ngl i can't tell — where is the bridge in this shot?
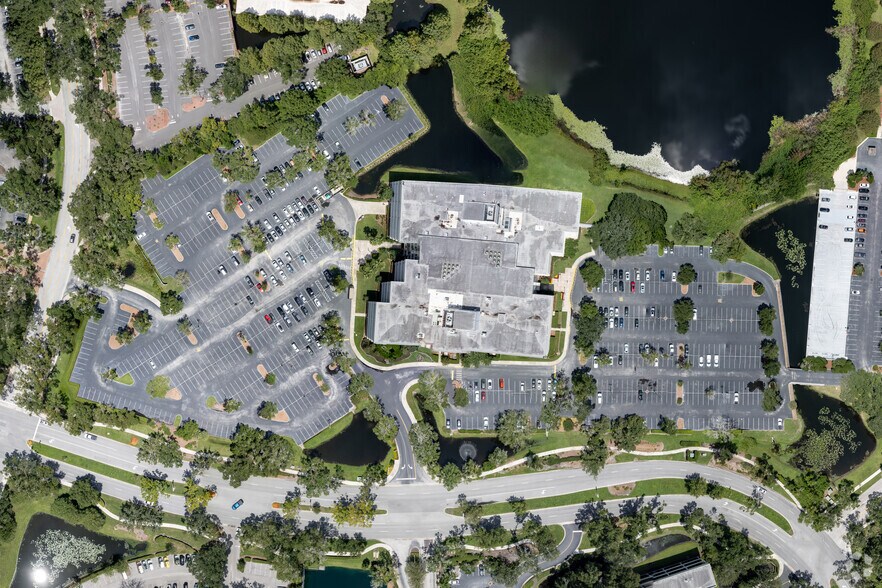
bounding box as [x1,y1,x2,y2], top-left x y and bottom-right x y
[789,368,844,387]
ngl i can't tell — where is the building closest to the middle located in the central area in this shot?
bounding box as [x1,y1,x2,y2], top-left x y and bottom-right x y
[365,179,584,359]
